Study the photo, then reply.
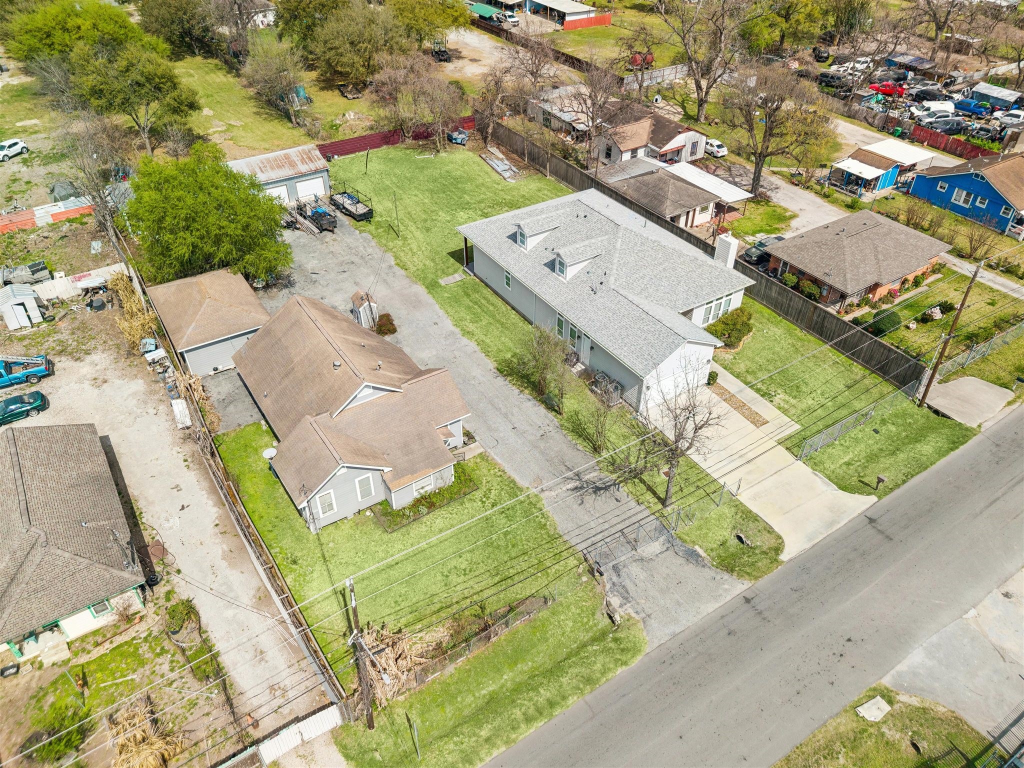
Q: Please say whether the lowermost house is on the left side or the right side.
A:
left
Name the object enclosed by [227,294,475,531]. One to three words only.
house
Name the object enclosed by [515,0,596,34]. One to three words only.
building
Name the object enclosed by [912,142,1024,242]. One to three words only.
house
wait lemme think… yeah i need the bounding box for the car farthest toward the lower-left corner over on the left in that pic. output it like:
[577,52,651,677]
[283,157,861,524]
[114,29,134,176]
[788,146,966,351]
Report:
[0,385,48,421]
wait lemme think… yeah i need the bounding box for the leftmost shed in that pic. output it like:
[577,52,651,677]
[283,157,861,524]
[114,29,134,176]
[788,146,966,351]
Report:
[0,287,42,330]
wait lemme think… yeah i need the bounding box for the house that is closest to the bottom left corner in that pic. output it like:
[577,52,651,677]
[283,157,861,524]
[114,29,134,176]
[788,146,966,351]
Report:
[0,422,150,708]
